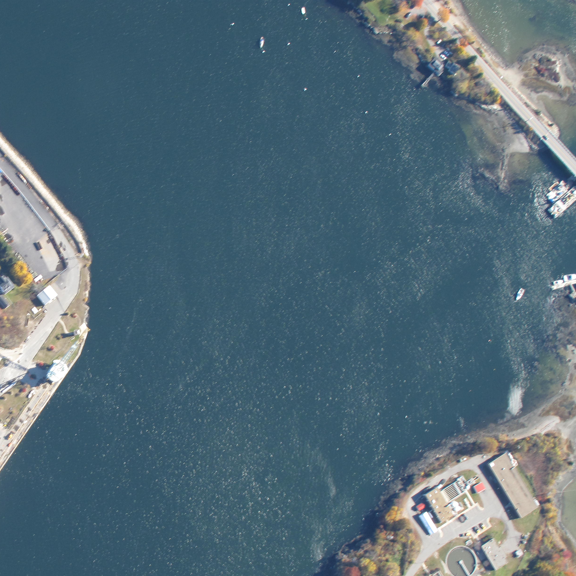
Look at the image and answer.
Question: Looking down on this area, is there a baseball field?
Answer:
No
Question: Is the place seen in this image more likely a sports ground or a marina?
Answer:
marina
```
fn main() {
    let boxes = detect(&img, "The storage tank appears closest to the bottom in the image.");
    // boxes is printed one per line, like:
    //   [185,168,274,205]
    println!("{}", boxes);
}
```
[445,547,477,576]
